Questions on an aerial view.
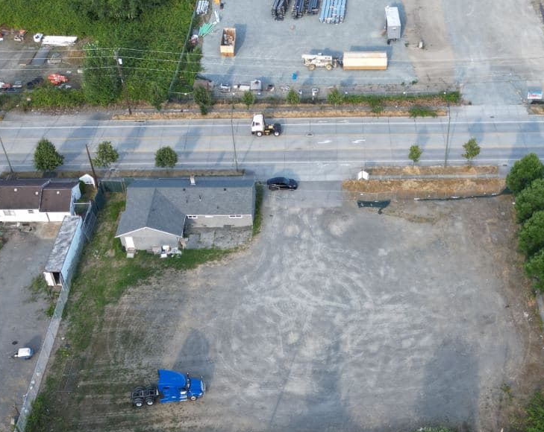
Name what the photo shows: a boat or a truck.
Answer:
truck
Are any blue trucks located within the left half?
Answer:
Yes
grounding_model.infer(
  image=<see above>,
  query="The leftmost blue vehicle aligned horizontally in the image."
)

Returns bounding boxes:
[133,373,206,409]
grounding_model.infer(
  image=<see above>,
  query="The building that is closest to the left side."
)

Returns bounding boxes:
[0,178,82,224]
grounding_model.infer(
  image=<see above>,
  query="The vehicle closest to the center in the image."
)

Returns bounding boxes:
[266,176,298,190]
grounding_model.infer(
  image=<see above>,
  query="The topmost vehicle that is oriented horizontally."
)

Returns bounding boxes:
[304,57,344,71]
